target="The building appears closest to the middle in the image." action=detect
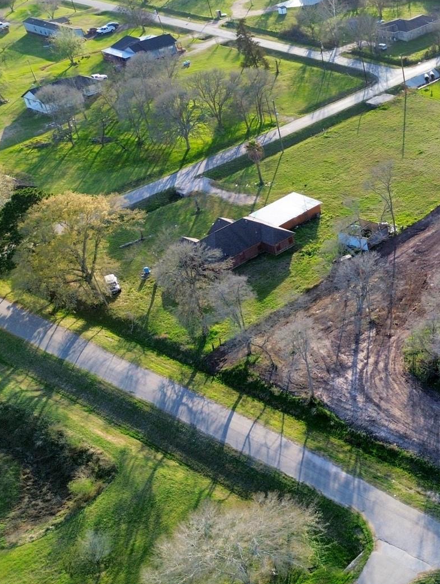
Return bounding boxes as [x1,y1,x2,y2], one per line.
[171,191,325,278]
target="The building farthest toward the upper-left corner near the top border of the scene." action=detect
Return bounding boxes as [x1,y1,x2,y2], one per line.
[21,17,96,37]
